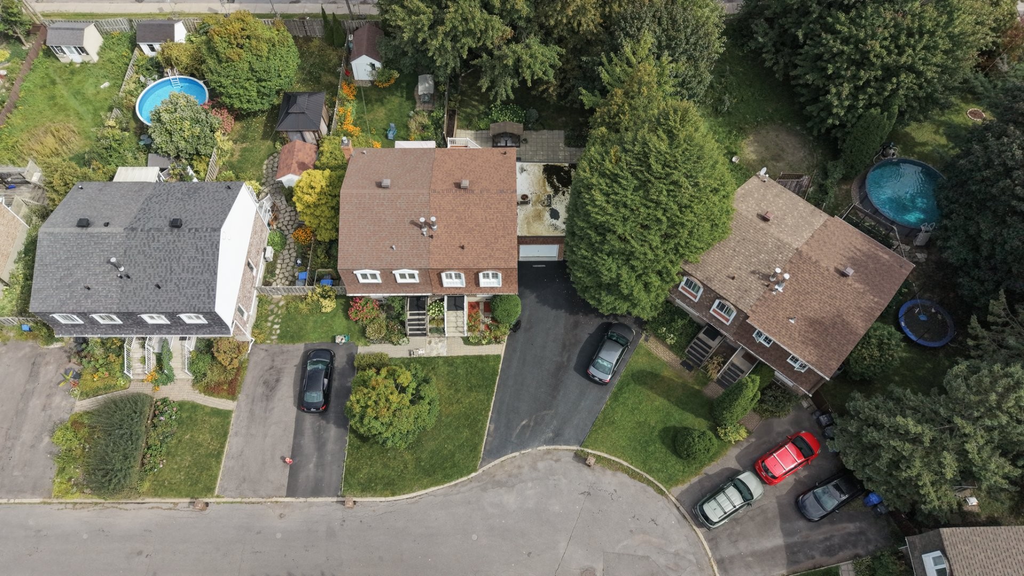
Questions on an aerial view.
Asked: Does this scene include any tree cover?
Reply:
Yes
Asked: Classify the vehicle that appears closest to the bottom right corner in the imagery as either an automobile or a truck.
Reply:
automobile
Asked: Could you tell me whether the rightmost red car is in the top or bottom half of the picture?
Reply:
bottom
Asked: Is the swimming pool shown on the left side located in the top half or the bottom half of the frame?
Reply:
top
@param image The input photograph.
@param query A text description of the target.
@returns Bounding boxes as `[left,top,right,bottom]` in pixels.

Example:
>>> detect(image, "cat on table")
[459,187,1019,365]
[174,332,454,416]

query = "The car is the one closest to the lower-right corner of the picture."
[792,470,870,523]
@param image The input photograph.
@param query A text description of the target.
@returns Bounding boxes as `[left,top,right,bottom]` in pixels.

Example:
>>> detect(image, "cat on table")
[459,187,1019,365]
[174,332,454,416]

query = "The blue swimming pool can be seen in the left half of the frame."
[136,75,213,136]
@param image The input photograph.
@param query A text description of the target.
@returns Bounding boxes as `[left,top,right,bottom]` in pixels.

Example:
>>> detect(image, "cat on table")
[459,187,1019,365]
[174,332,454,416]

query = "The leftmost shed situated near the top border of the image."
[46,25,100,63]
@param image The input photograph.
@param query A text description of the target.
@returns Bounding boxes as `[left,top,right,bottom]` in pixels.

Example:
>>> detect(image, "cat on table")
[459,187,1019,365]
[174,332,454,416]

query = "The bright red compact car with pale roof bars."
[754,432,821,486]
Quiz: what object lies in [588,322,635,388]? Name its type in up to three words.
car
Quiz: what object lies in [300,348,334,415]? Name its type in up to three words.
car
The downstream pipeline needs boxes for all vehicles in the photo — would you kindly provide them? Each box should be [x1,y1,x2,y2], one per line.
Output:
[754,432,821,486]
[792,470,870,523]
[693,470,767,532]
[588,322,635,388]
[300,348,334,415]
